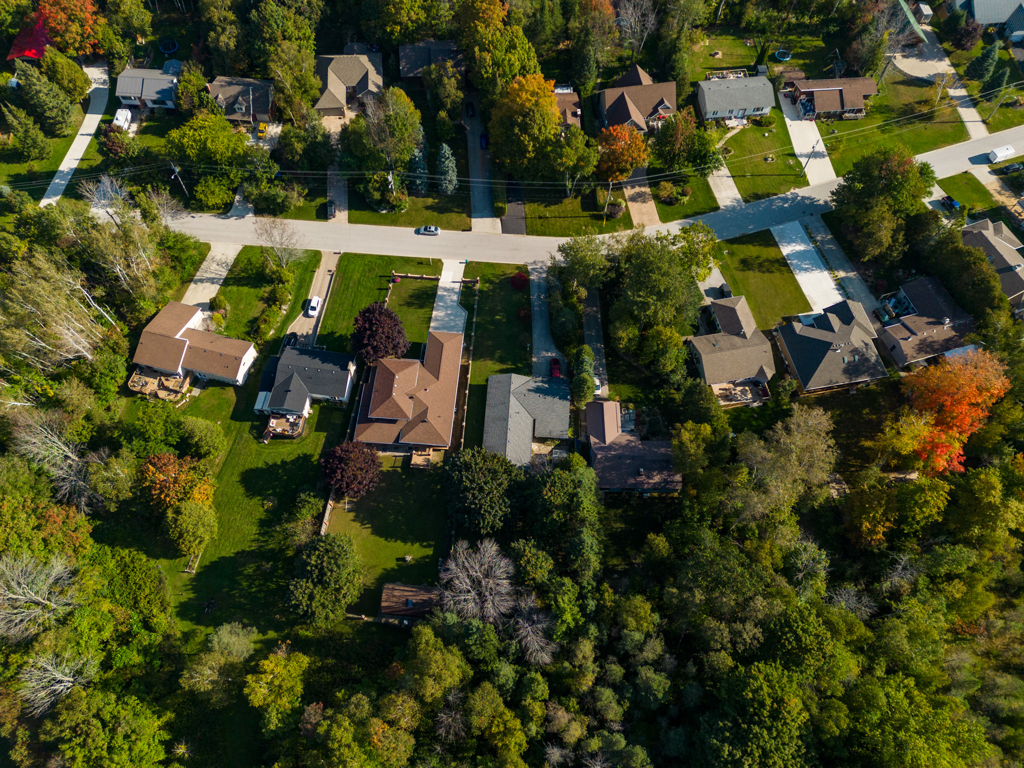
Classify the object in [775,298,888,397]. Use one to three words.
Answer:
house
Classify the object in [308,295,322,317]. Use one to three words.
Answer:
car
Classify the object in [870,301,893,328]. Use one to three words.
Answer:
truck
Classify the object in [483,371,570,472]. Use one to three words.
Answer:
house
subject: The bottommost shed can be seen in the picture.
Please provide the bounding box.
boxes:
[383,584,443,617]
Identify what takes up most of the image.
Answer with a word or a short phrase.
trees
